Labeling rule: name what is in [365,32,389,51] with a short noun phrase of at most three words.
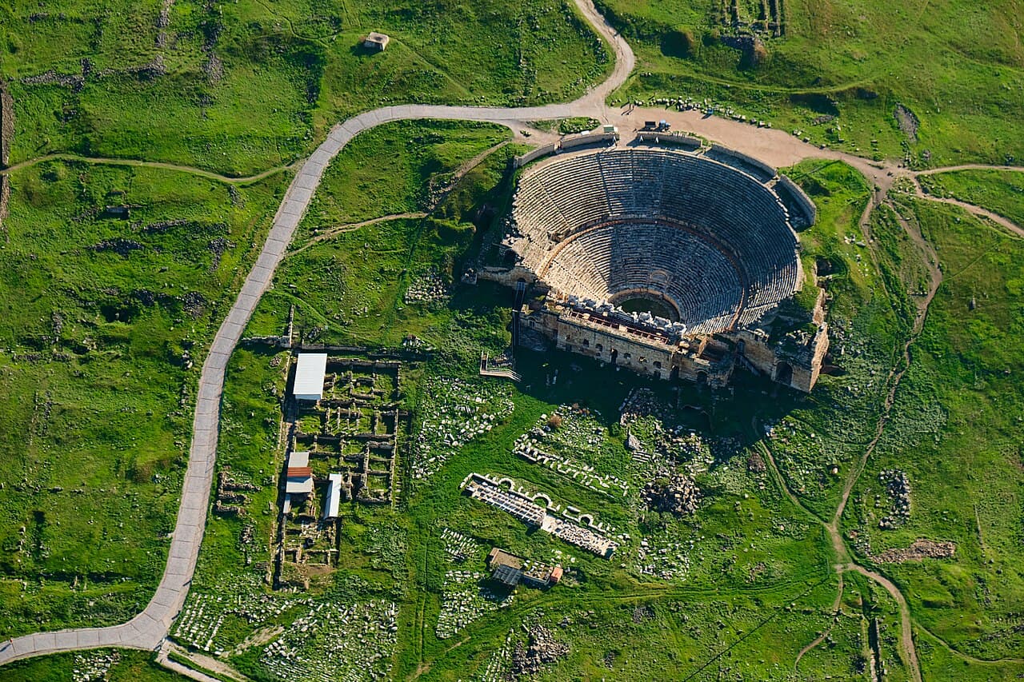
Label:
shed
